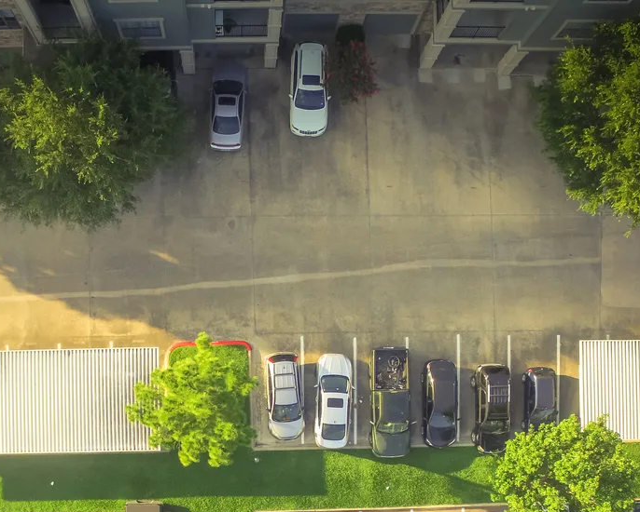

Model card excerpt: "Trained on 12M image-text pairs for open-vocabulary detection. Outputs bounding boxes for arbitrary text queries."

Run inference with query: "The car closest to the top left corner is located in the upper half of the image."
[207,62,248,154]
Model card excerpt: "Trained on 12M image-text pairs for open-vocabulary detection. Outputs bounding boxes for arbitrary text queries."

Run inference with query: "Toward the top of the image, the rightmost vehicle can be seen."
[288,42,332,139]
